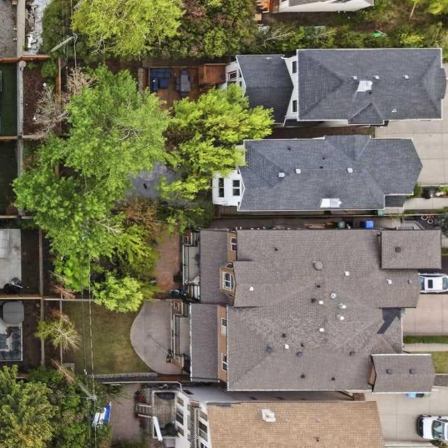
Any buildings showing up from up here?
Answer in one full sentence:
Yes, a building can be made out from above.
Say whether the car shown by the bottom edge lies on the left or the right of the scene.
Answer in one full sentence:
The car shown by the bottom edge appears in the right half of the scene.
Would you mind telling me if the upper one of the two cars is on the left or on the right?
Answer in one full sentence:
The upper one of the two cars appears in the right half of the scene.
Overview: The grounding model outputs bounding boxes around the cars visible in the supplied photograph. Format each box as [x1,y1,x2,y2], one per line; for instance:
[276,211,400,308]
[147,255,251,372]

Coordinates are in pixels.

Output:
[415,416,448,442]
[421,271,448,295]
